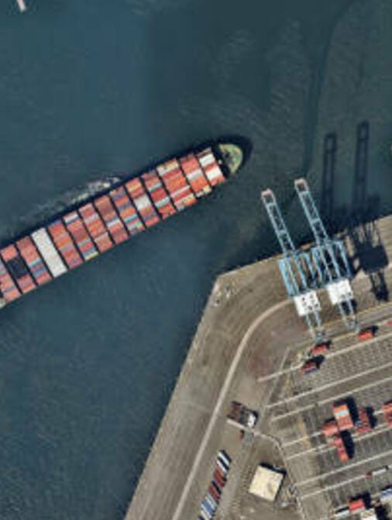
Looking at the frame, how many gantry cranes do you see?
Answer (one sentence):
I count 2 gantry cranes.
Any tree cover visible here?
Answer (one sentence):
No, tree cover can't be seen anywhere here.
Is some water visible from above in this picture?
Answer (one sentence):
Yes, water shows up in the scene.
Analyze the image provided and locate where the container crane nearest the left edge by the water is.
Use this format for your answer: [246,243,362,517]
[262,191,325,341]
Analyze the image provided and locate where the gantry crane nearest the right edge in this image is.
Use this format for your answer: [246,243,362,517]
[294,179,357,329]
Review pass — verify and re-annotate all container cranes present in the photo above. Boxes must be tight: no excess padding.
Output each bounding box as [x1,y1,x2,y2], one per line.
[294,179,357,329]
[262,191,325,341]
